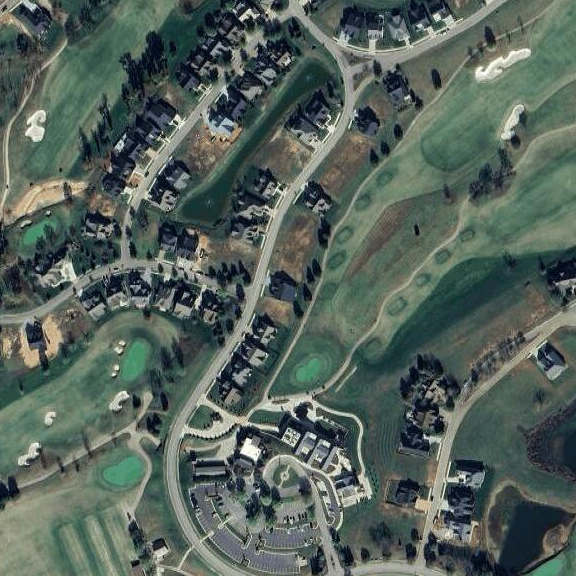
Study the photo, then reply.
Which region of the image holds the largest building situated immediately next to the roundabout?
bottom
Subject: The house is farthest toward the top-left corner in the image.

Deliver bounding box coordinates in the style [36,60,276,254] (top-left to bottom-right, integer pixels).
[22,3,48,33]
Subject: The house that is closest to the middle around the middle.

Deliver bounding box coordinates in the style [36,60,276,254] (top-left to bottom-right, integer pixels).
[267,274,298,301]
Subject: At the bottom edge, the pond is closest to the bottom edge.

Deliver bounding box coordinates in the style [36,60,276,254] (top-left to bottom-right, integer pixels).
[501,500,575,576]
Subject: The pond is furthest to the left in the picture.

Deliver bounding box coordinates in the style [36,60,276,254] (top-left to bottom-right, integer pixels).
[180,57,331,225]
